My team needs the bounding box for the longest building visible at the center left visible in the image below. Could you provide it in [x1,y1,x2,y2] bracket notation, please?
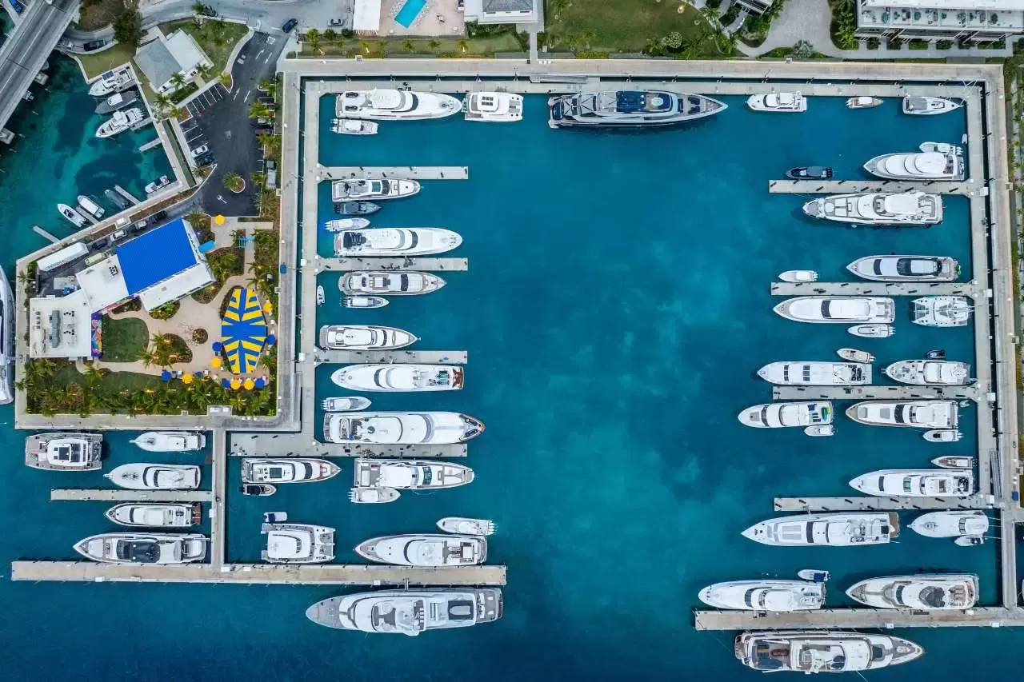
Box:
[29,217,219,360]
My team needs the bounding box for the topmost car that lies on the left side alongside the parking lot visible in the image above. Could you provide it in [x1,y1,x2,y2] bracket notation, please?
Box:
[282,18,297,33]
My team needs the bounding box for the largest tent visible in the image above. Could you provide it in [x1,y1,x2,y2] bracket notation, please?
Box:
[222,288,268,373]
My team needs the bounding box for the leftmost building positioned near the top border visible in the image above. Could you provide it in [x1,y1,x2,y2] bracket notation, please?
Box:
[133,29,215,97]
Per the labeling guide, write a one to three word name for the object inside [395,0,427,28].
swimming pool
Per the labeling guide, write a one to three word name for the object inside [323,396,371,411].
boat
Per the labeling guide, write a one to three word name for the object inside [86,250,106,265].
vehicle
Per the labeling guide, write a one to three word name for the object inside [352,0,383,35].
building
